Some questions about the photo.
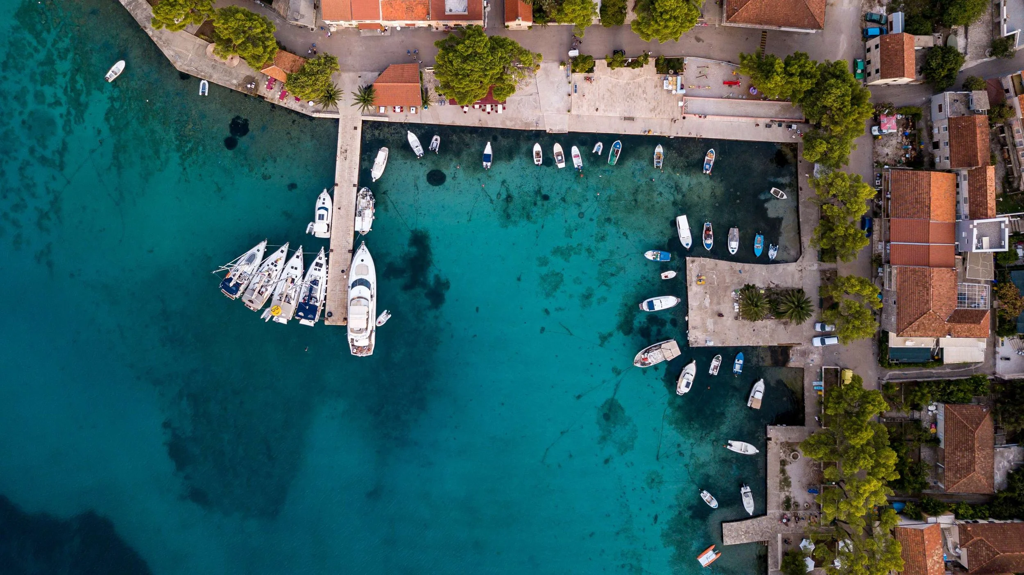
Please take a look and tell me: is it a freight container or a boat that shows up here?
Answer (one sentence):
There is a boat in the scene.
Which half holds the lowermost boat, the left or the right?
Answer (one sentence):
The lowermost boat sits on the right side.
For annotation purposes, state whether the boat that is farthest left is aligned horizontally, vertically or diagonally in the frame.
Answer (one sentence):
What the image shows is the boat that is farthest left lying diagonally.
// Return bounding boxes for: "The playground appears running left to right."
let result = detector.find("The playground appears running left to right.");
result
[684,58,794,103]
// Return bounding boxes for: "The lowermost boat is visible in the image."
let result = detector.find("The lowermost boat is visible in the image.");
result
[697,547,721,568]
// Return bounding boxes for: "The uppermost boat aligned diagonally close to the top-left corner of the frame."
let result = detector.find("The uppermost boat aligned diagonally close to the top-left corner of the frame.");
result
[101,60,127,84]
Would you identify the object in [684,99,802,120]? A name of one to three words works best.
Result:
sports court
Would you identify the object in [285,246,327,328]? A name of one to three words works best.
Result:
boat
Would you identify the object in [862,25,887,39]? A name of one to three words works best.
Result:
car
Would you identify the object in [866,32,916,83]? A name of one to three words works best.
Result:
house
